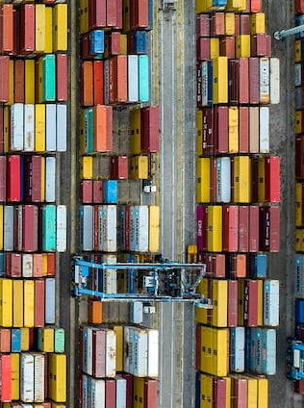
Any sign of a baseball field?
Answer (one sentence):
No, there is no baseball field in the image.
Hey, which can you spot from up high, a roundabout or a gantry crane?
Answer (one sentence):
There is a gantry crane in the scene.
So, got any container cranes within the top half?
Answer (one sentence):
No, no container crane is visible within the top half.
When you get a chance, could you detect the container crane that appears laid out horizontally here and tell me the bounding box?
[73,250,211,302]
